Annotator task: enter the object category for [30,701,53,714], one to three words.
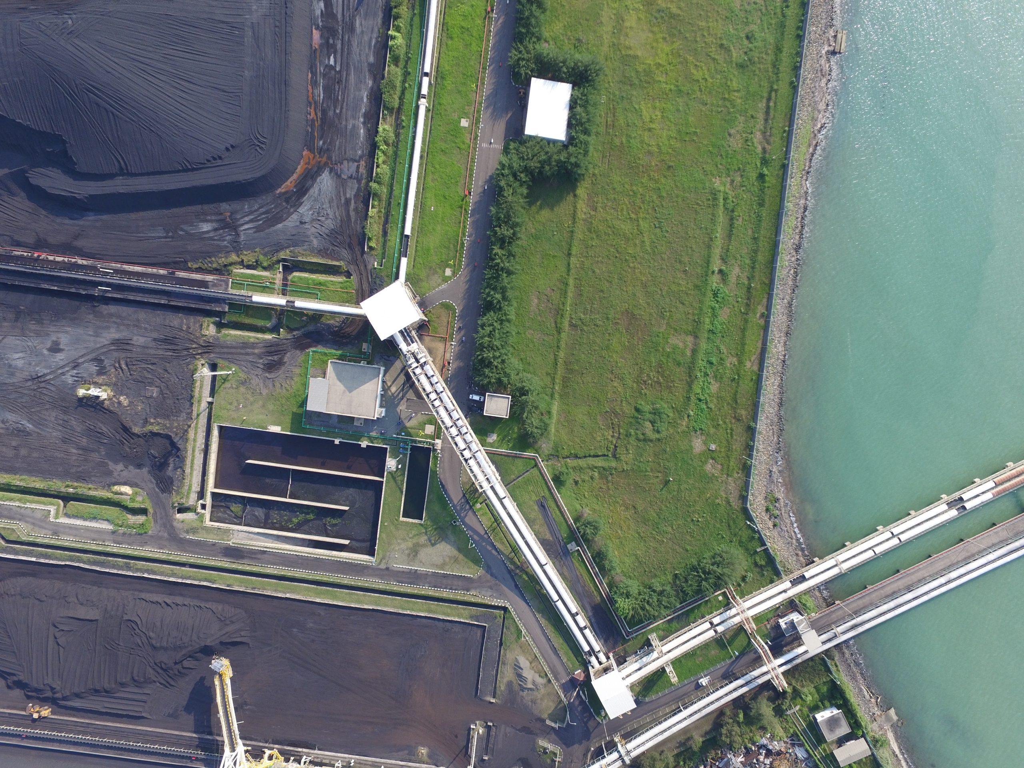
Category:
vehicle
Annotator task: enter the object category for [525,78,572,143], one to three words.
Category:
shed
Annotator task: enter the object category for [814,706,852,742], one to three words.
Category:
shed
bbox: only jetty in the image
[808,508,1024,636]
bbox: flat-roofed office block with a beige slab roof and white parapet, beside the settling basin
[307,360,387,419]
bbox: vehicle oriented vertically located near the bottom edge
[208,651,274,768]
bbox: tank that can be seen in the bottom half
[399,444,434,524]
